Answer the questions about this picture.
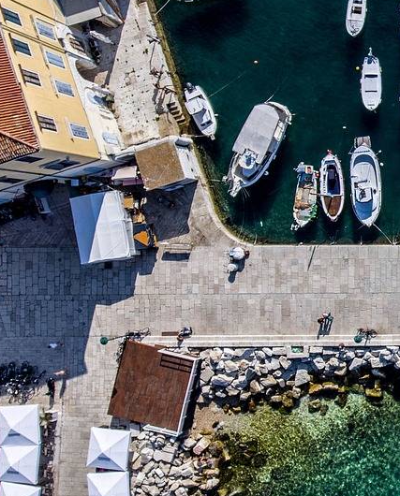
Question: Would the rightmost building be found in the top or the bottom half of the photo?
top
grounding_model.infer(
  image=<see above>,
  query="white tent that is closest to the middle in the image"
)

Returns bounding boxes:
[70,188,142,264]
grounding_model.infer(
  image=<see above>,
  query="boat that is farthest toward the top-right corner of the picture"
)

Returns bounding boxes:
[345,0,370,36]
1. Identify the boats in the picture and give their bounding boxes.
[309,152,345,220]
[349,136,384,226]
[290,159,318,228]
[182,80,220,139]
[358,48,385,111]
[345,0,370,36]
[225,96,296,198]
